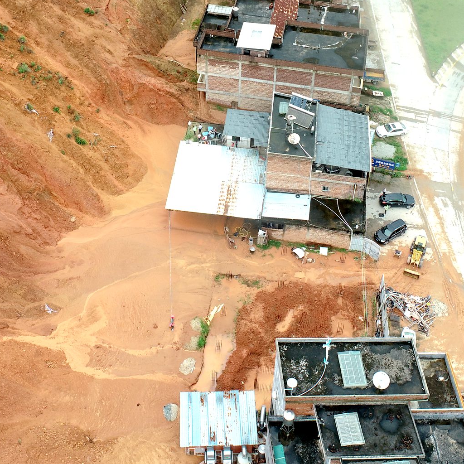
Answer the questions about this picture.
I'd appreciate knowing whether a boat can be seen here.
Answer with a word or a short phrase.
No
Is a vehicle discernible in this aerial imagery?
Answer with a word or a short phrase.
Yes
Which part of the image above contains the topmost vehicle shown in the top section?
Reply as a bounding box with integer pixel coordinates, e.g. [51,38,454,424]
[362,25,394,50]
